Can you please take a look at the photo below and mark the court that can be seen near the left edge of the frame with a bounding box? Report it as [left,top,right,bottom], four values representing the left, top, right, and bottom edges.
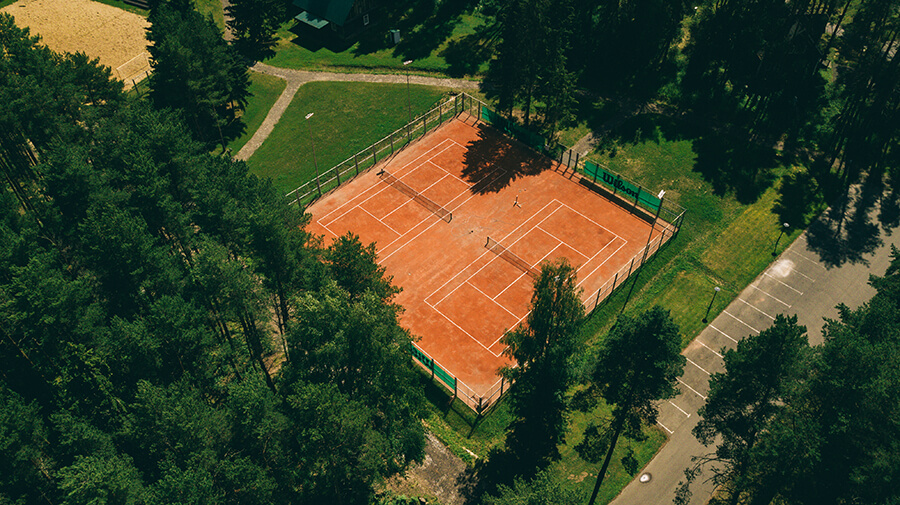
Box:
[0,0,152,103]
